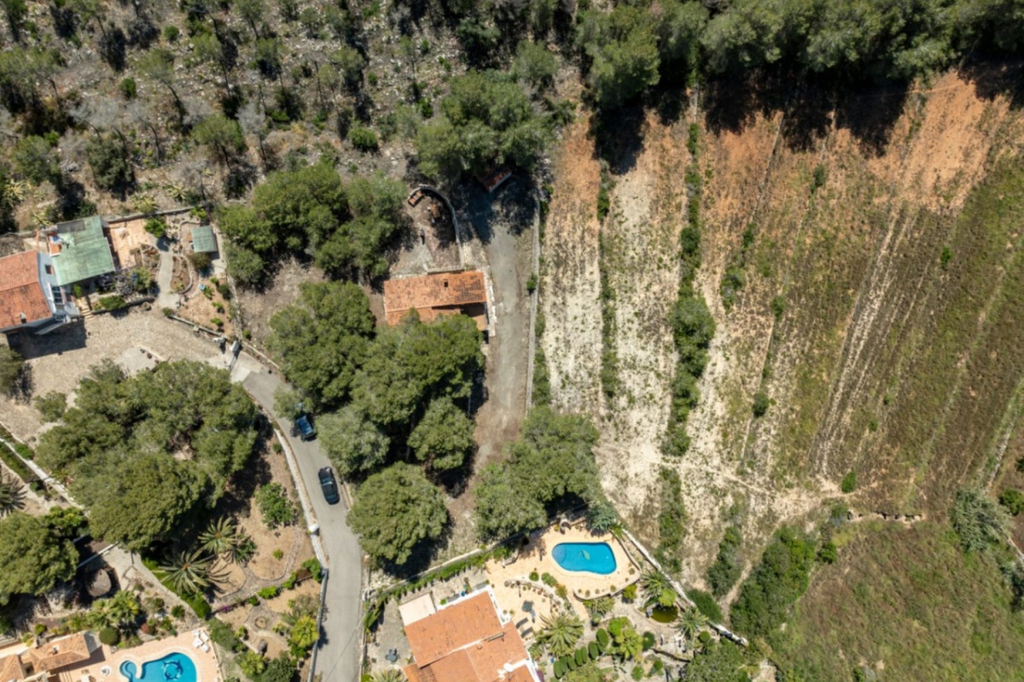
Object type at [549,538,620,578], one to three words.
swimming pool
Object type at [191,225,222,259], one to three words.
shed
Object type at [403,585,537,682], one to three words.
house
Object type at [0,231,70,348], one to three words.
house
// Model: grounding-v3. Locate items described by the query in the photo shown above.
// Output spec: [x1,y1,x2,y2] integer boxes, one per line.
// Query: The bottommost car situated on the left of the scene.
[319,468,341,506]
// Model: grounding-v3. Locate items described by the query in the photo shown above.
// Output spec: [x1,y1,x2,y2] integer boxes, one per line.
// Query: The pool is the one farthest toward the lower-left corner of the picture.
[118,650,199,682]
